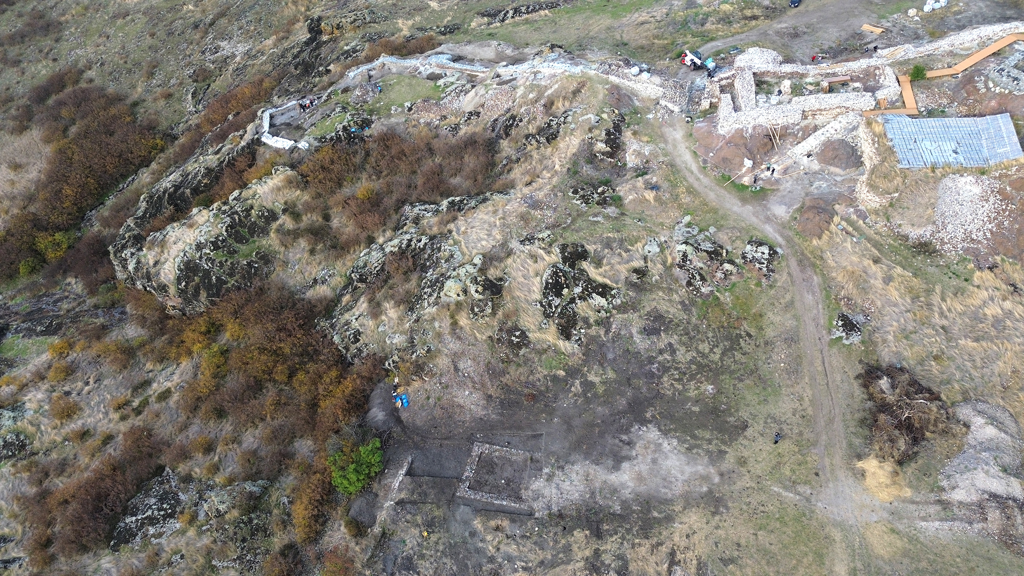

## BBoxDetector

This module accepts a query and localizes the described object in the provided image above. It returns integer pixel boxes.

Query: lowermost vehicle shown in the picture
[677,48,717,77]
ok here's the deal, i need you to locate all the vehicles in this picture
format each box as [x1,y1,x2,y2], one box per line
[791,0,803,8]
[677,48,717,77]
